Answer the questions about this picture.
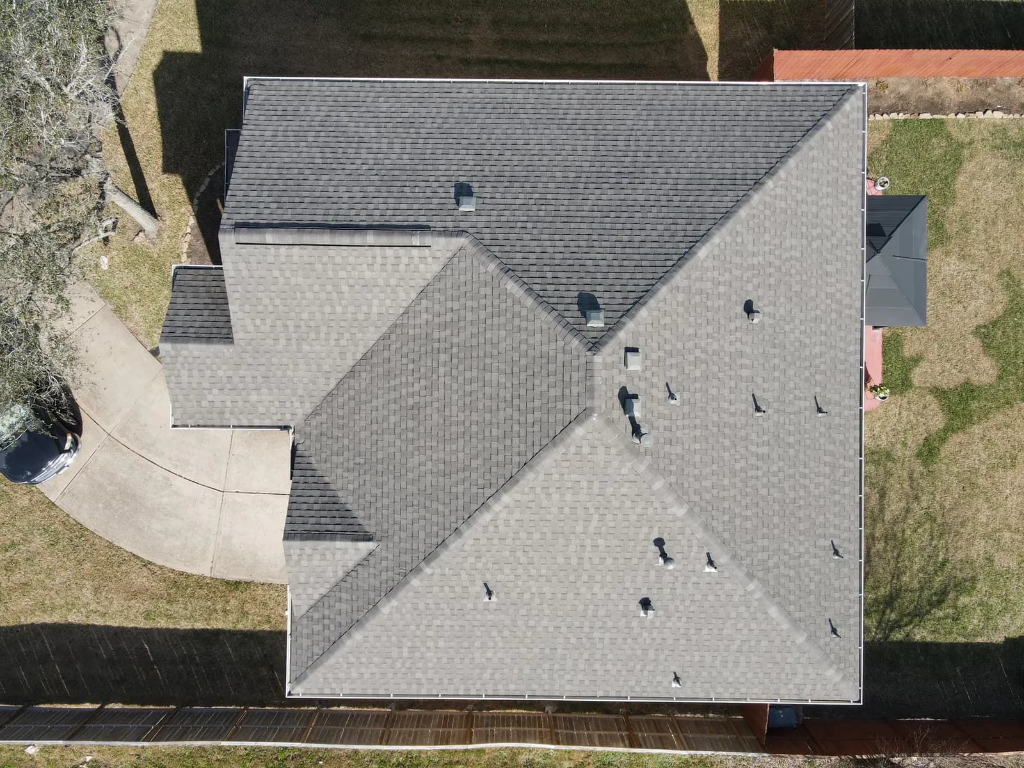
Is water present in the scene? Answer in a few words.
No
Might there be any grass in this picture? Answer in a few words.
Yes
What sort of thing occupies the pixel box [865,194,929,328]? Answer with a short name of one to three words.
gazebo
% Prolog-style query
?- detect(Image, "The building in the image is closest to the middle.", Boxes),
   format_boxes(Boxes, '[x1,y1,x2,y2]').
[157,77,867,703]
